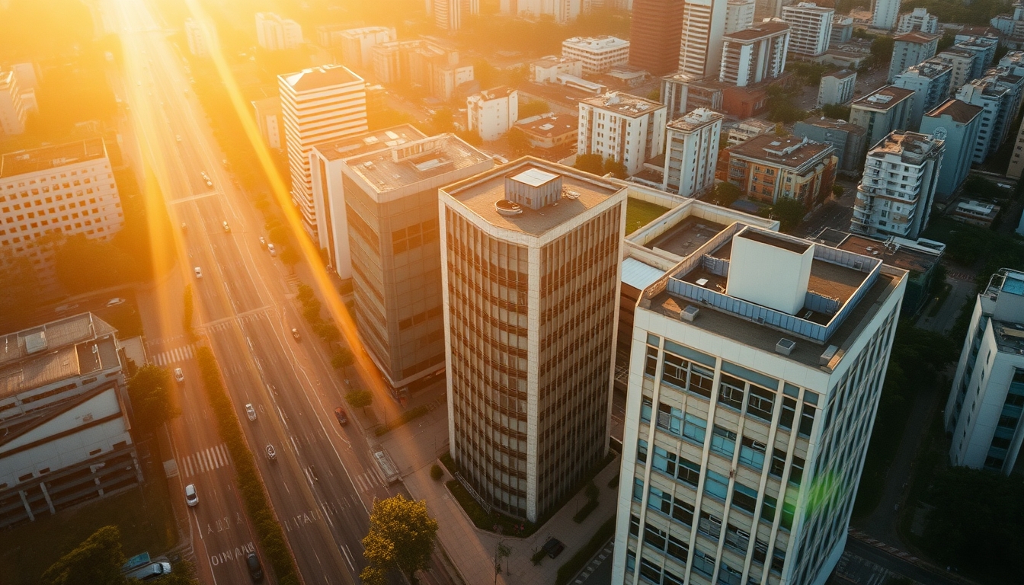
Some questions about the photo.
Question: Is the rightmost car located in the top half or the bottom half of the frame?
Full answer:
Seen from above, the rightmost car lies in the bottom half of the view.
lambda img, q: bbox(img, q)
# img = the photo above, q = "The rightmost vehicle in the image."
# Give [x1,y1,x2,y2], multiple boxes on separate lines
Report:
[539,539,563,559]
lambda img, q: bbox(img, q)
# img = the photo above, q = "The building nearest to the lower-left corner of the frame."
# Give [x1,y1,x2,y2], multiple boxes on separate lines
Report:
[0,305,148,522]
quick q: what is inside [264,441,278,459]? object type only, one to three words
car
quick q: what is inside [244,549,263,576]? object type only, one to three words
car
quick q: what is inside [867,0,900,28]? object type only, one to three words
building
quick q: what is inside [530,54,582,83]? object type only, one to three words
house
